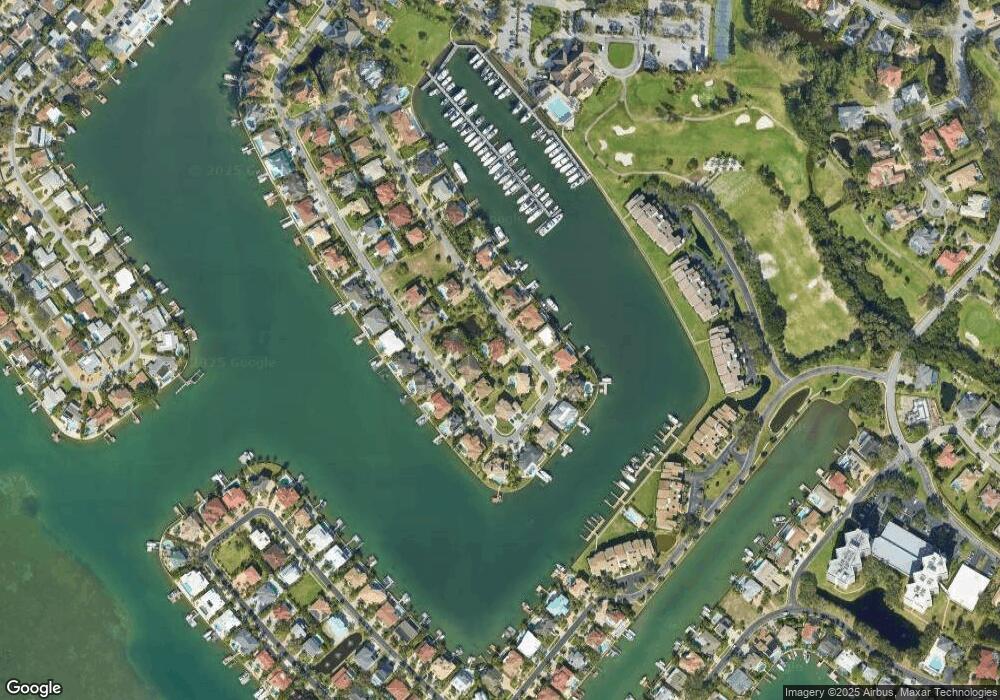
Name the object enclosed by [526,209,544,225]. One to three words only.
boat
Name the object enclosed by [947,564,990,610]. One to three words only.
building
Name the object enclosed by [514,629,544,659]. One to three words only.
house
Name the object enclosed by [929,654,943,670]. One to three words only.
swimming pool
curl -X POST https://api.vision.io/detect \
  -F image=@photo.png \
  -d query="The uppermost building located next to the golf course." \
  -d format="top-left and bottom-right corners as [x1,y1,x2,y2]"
[546,45,599,92]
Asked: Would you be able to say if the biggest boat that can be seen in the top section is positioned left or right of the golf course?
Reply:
on its left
